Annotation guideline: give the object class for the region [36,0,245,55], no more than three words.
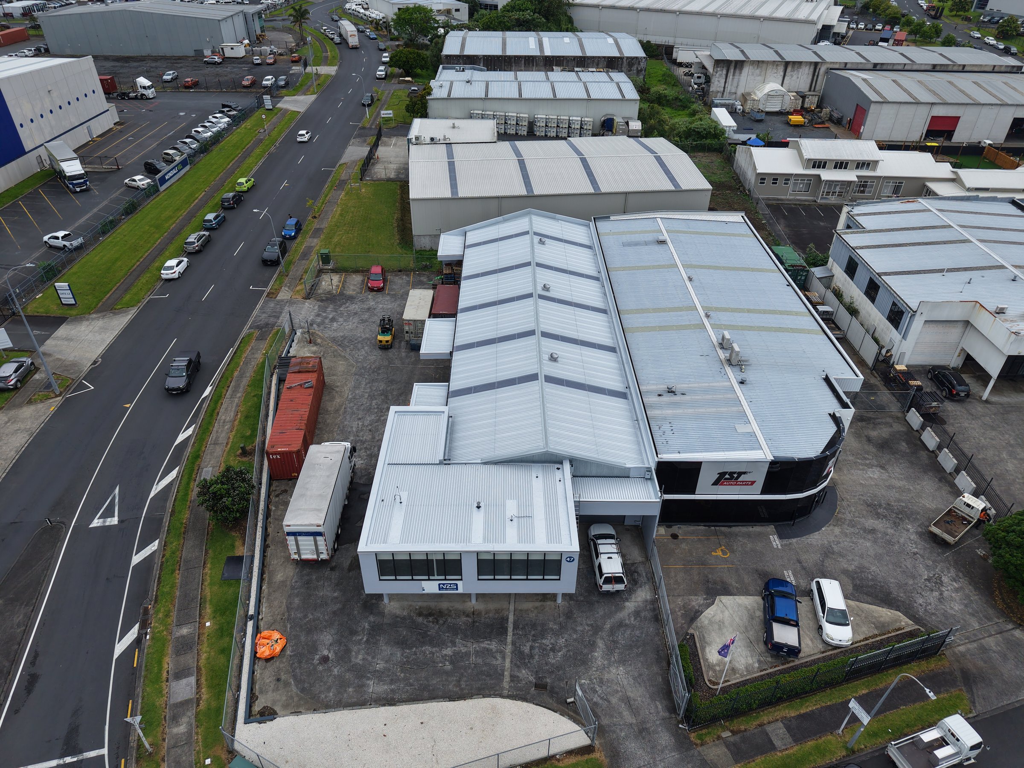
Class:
building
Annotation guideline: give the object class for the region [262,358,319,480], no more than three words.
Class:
shipping container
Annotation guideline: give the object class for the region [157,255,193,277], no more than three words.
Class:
car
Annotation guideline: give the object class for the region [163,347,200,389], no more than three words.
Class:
truck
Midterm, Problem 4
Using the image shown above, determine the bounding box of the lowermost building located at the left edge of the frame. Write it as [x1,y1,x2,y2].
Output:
[0,52,135,192]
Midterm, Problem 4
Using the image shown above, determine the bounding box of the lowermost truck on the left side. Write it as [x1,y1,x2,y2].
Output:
[272,446,362,575]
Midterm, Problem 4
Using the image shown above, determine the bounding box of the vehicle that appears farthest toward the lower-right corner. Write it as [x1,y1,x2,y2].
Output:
[886,709,995,768]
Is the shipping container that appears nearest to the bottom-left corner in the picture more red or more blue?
red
